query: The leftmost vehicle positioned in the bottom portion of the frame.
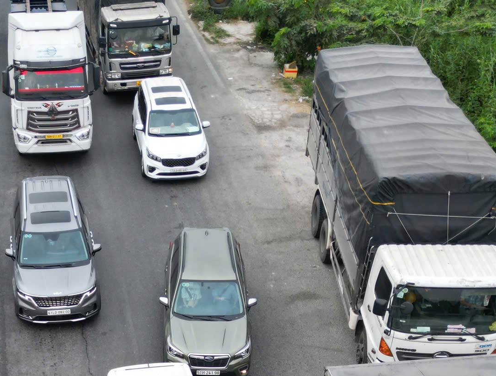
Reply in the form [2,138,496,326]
[6,174,101,321]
